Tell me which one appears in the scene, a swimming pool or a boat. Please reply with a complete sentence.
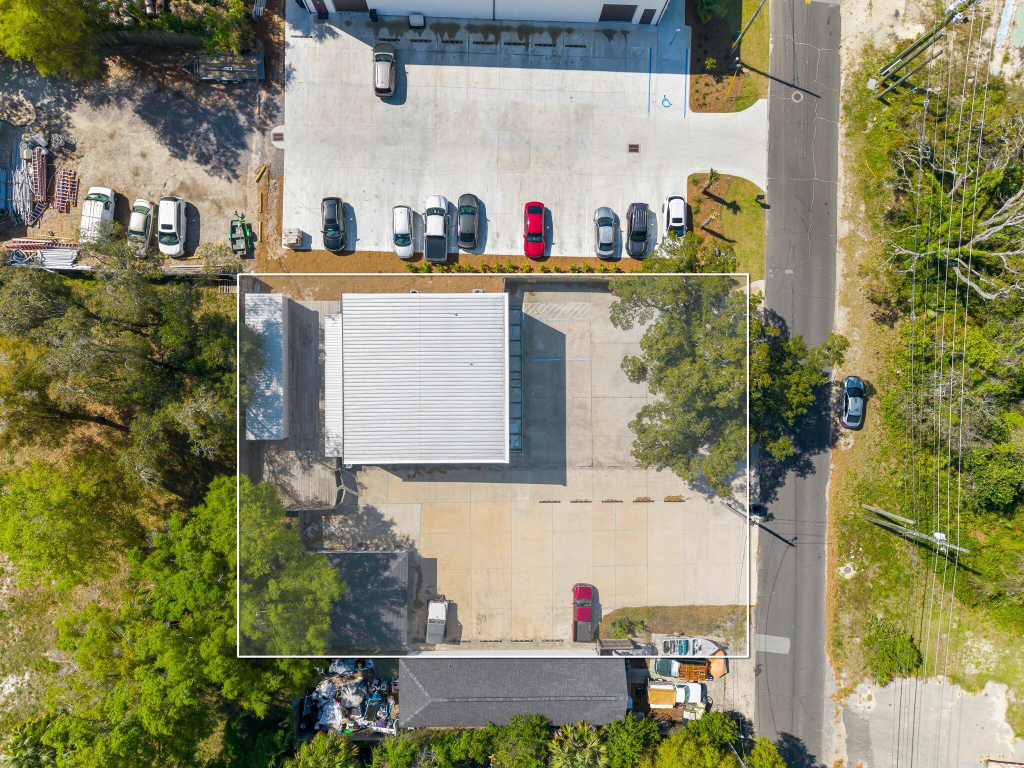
This aerial view contains a boat.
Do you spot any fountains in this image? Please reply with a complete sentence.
No, I find no fountain anywhere in the image.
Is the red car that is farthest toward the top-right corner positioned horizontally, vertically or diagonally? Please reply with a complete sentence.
The red car that is farthest toward the top-right corner has been laid out vertically relative to the frame.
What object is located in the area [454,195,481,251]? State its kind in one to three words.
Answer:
car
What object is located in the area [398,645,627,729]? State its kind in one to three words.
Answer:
house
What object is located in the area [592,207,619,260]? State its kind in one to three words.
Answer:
car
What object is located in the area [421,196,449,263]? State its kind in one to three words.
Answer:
truck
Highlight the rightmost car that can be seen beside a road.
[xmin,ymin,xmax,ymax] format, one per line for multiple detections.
[838,375,868,430]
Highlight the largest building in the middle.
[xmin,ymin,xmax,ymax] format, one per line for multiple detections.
[324,292,510,465]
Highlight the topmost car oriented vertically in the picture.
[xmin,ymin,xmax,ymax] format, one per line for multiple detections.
[370,44,397,98]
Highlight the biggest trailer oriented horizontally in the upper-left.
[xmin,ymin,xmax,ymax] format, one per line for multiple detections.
[180,49,260,83]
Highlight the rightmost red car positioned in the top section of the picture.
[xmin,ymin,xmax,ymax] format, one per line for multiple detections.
[521,202,548,258]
